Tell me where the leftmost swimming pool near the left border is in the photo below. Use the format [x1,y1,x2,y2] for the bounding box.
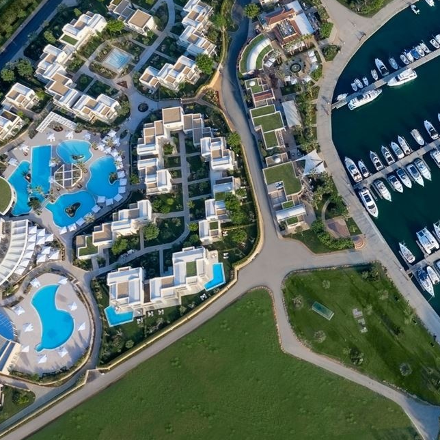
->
[6,158,32,217]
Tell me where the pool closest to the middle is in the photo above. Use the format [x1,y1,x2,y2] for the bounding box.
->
[203,262,226,290]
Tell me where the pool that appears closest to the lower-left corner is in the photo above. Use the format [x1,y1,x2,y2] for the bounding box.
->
[32,283,76,350]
